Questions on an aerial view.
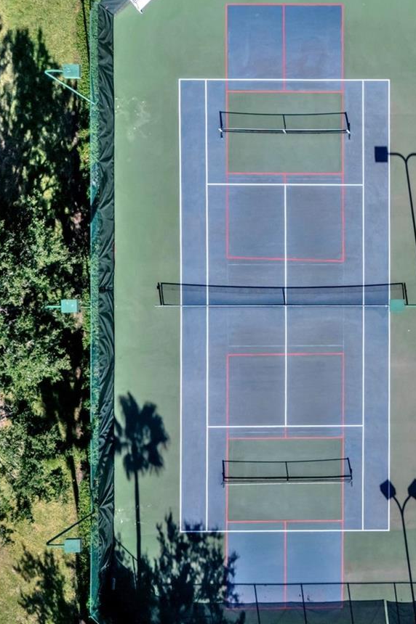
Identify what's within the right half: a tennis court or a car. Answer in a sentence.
Visible within the right half is a tennis court.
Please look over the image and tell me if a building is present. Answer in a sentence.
No, the picture doesn't show any building.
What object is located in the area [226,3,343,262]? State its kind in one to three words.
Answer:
sports court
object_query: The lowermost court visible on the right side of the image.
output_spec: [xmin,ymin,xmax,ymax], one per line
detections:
[226,354,343,609]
